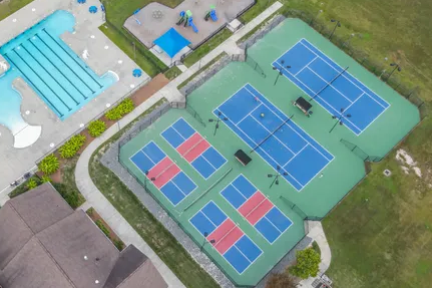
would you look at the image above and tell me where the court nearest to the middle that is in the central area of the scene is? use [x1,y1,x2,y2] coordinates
[161,117,228,179]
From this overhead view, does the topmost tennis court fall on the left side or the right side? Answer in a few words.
right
